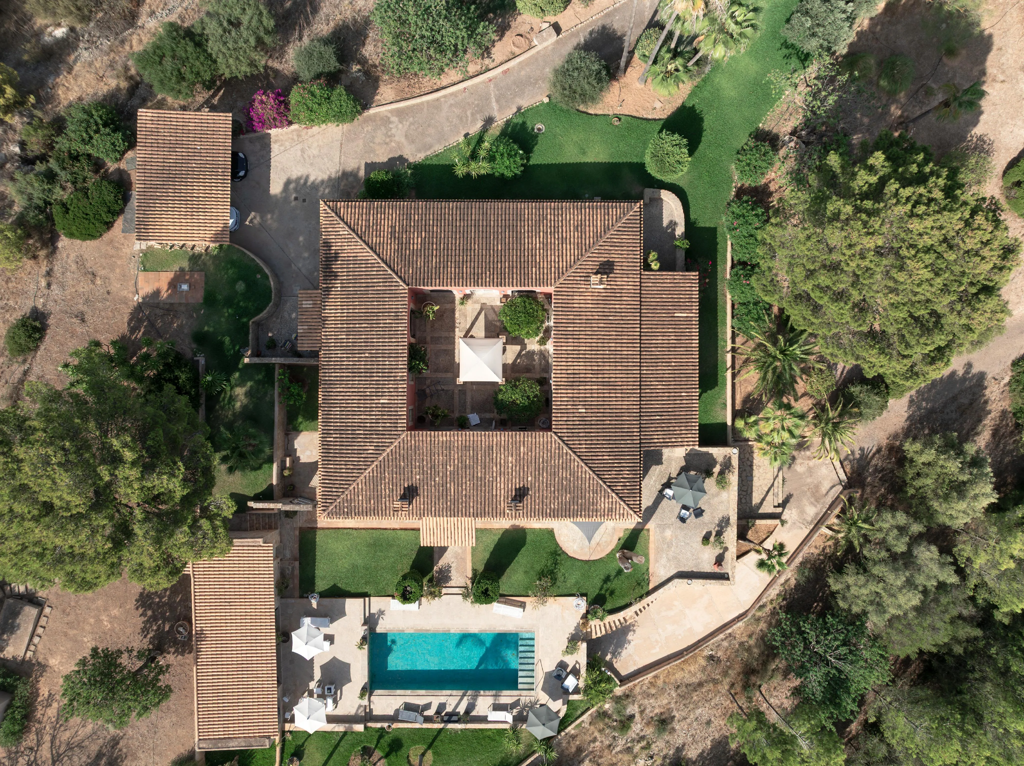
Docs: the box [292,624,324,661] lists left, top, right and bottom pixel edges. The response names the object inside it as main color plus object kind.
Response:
white umbrella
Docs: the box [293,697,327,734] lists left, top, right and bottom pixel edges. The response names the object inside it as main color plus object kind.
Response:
white umbrella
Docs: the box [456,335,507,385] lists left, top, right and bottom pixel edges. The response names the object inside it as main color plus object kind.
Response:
white gazebo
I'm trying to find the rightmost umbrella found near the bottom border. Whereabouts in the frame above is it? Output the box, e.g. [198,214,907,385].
[526,704,561,741]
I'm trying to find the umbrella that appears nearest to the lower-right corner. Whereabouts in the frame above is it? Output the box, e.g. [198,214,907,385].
[671,472,707,507]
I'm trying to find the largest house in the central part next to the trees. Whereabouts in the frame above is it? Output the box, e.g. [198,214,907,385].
[296,199,701,548]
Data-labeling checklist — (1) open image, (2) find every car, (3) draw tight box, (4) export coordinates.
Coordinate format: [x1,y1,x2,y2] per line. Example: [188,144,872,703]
[231,152,250,182]
[230,207,241,233]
